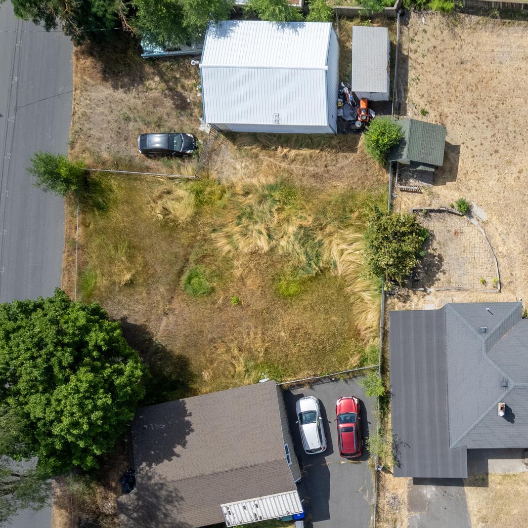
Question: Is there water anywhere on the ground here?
No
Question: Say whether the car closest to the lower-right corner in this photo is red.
Yes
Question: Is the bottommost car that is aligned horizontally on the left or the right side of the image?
left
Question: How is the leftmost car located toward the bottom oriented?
up and down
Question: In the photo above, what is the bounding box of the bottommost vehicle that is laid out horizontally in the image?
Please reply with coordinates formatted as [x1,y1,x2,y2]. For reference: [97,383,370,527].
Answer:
[138,129,199,157]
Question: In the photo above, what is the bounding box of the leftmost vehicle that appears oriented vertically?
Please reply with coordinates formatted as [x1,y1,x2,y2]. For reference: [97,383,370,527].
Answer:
[296,395,329,455]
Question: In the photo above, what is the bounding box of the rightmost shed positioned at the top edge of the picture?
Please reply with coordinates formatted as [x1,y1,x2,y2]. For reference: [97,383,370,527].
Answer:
[351,25,390,101]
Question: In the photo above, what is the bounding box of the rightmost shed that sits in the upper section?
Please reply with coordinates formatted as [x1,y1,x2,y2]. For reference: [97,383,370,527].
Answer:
[389,118,446,190]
